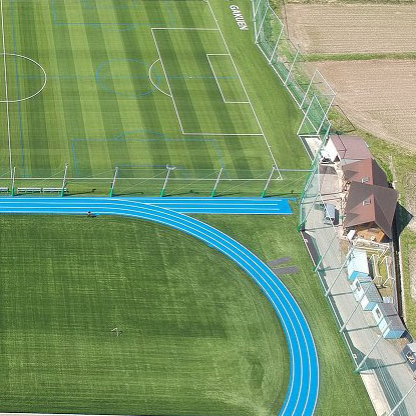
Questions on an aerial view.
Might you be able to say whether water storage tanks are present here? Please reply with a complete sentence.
No, this view has no water storage tank in it.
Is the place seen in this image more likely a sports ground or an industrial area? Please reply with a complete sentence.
The picture captures a sports ground.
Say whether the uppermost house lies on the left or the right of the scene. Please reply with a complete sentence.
The uppermost house appears in the right half of the scene.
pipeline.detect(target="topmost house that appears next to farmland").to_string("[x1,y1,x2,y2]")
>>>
[324,135,372,175]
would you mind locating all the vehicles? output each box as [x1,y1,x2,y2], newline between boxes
[317,150,331,168]
[324,205,340,225]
